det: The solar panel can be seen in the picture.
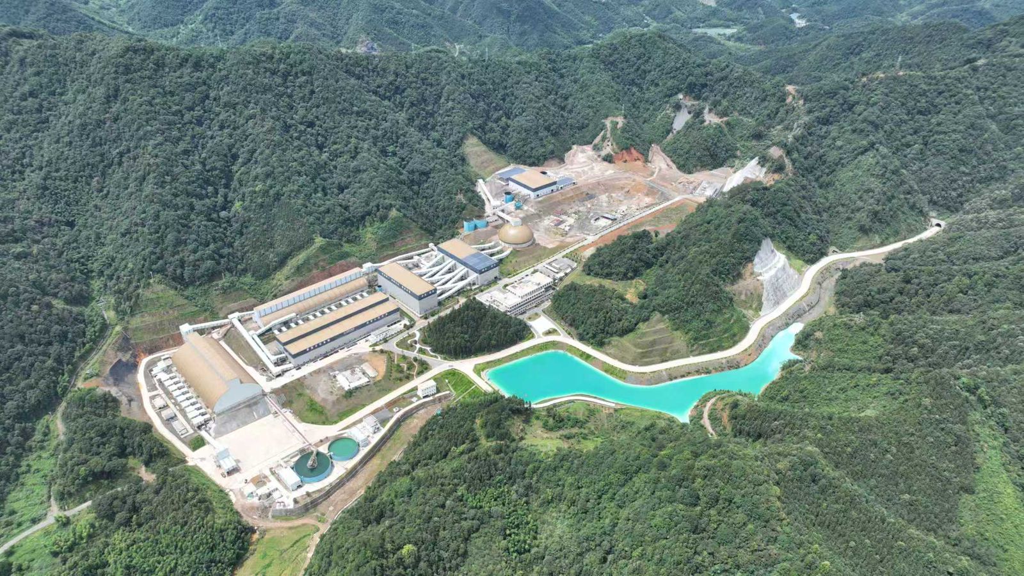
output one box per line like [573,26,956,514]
[461,251,497,272]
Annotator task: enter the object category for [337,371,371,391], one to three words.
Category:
building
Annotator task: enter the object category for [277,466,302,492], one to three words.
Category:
building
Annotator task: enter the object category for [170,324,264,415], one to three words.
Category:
shed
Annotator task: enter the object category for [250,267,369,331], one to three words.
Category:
shed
